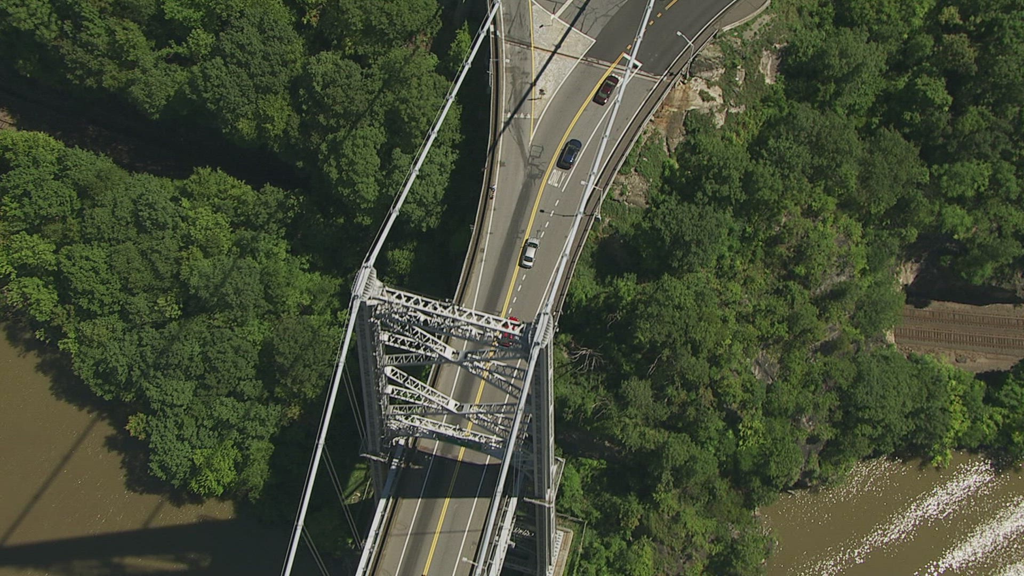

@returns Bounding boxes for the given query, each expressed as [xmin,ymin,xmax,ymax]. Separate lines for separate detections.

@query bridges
[281,0,682,576]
